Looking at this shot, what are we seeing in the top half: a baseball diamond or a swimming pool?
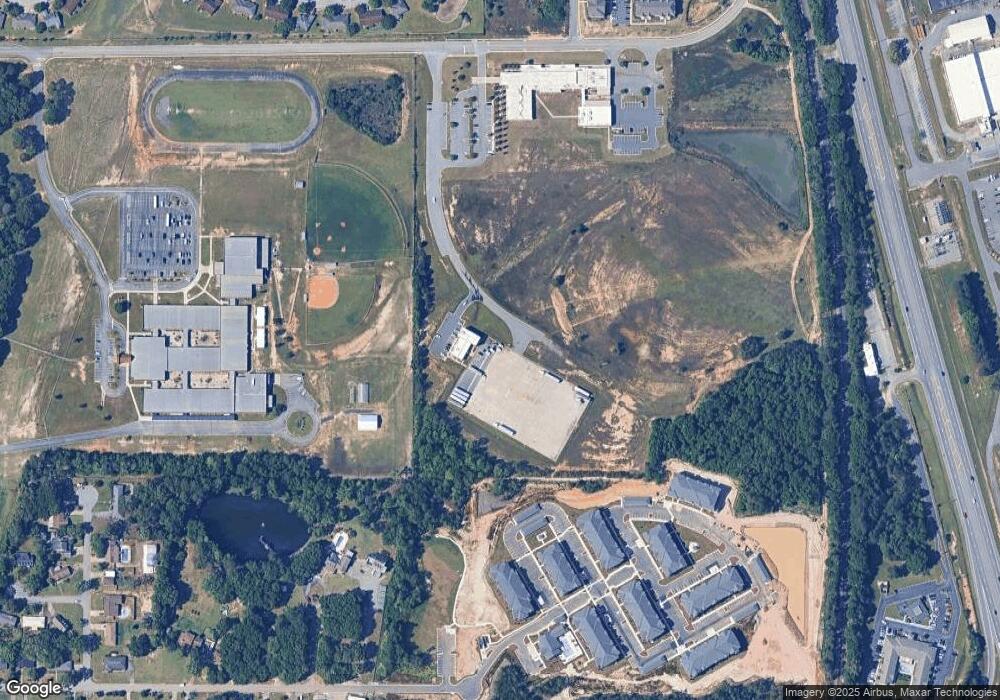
baseball diamond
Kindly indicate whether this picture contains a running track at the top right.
No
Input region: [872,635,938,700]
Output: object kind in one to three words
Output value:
building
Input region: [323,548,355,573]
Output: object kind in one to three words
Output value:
house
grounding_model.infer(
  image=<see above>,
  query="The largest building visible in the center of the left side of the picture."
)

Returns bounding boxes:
[131,305,271,420]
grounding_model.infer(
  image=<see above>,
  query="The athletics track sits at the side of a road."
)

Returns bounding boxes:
[142,69,321,153]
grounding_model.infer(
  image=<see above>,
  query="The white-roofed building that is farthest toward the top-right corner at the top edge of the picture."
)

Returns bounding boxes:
[944,16,993,49]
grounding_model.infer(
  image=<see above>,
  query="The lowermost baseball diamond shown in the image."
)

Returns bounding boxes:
[304,272,376,346]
